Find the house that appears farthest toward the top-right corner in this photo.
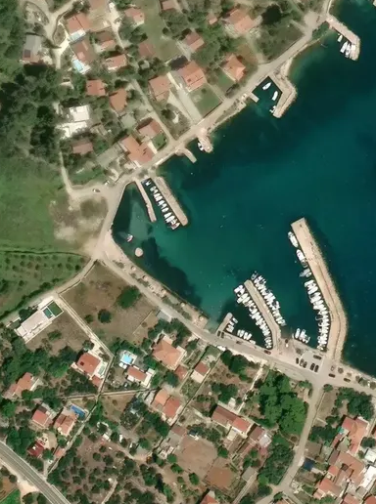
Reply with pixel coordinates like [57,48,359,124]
[226,7,256,36]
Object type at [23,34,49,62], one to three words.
house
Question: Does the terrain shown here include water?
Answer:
Yes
